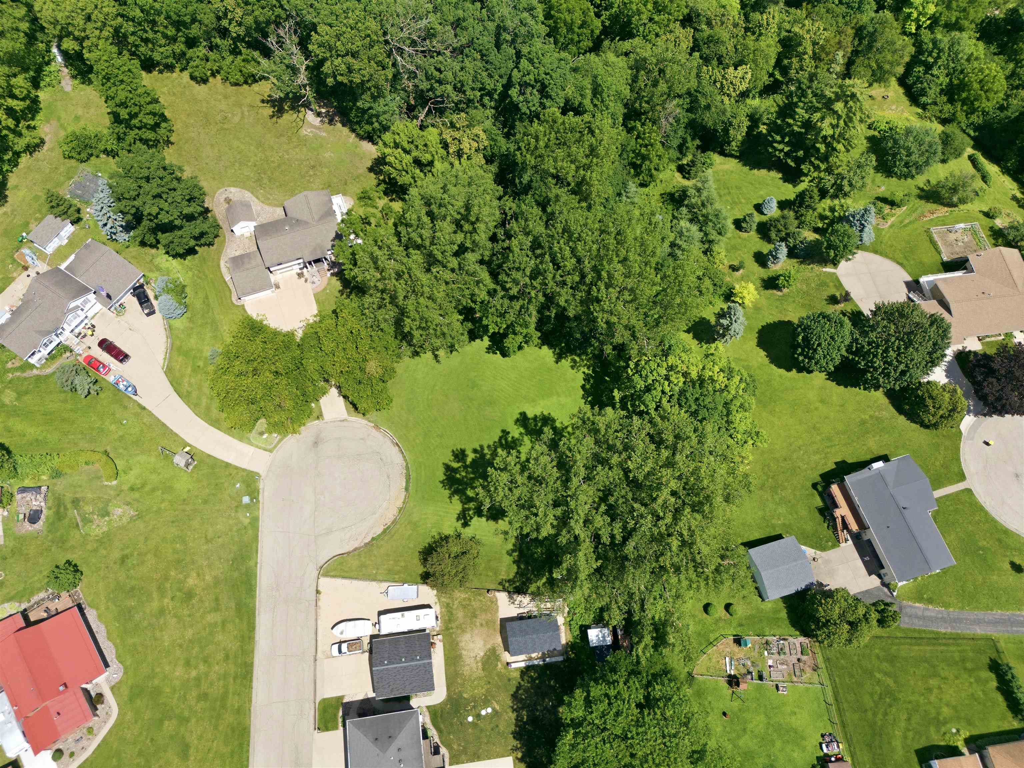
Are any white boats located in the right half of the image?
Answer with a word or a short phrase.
No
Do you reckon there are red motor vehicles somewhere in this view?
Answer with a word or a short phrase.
Yes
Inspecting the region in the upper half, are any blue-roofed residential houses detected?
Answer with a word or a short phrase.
No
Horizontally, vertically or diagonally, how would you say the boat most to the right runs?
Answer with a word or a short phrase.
horizontally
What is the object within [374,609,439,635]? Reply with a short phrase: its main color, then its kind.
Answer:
white vehicle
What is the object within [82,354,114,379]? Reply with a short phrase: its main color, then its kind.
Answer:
red car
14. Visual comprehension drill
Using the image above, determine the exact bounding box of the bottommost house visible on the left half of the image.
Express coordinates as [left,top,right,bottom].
[346,708,443,768]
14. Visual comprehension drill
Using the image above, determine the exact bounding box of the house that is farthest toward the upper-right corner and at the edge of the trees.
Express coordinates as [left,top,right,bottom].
[908,248,1024,350]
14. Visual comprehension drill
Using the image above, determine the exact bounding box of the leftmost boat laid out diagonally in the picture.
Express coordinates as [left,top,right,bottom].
[111,376,136,395]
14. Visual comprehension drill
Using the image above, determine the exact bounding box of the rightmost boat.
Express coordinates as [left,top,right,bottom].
[331,617,373,637]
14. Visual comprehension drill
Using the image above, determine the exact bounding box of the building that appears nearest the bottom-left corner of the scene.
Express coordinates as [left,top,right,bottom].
[0,591,113,755]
